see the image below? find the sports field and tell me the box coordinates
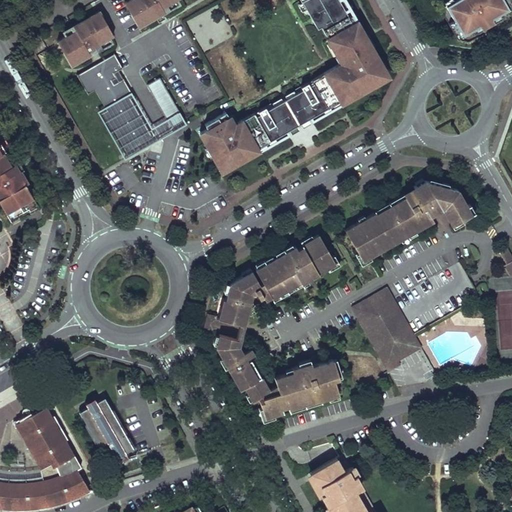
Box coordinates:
[242,0,320,94]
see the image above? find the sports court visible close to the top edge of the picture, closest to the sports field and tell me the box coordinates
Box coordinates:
[194,4,233,50]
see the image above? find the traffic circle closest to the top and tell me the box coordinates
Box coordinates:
[410,64,498,152]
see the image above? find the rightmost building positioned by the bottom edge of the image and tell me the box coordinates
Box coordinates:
[308,460,374,512]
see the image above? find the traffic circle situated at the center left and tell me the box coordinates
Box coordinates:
[69,226,190,346]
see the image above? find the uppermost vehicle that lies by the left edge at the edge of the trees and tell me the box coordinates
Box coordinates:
[4,60,28,100]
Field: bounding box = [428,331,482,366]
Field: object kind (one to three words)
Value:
swimming pool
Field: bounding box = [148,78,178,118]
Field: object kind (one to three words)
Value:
shed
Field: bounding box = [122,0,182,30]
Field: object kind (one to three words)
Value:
house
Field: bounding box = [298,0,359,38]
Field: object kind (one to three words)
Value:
building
